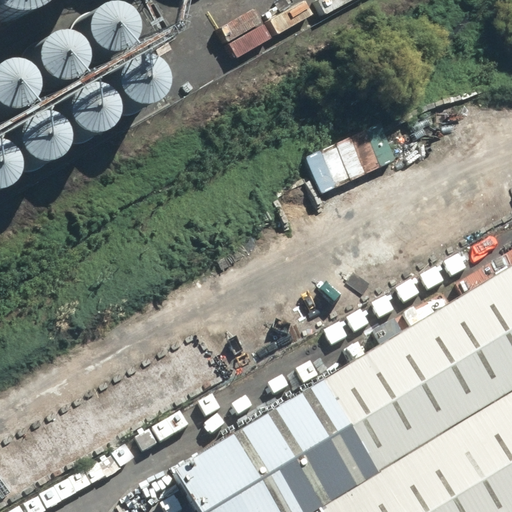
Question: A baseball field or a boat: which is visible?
boat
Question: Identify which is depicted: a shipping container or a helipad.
shipping container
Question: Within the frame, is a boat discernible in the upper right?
No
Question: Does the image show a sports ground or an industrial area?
industrial area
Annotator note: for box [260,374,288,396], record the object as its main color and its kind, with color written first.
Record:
white truck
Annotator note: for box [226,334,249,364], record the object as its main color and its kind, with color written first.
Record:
black truck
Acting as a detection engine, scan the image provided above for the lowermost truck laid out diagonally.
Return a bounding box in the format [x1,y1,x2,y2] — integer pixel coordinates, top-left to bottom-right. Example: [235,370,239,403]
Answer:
[224,394,252,417]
